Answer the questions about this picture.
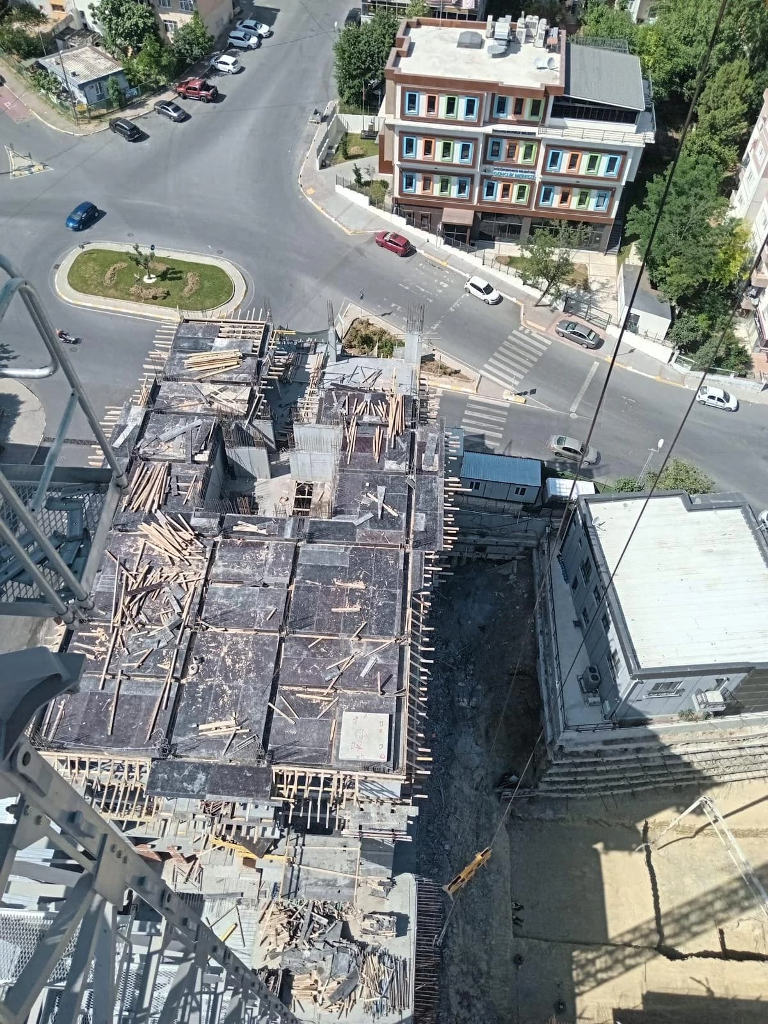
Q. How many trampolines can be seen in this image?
0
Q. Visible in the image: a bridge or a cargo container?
cargo container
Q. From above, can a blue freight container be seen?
Yes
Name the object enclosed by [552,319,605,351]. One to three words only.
car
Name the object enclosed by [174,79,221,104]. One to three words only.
vehicle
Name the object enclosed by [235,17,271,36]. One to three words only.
car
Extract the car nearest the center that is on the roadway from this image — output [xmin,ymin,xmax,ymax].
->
[545,433,603,468]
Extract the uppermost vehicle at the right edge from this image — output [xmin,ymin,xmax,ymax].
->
[691,381,742,414]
